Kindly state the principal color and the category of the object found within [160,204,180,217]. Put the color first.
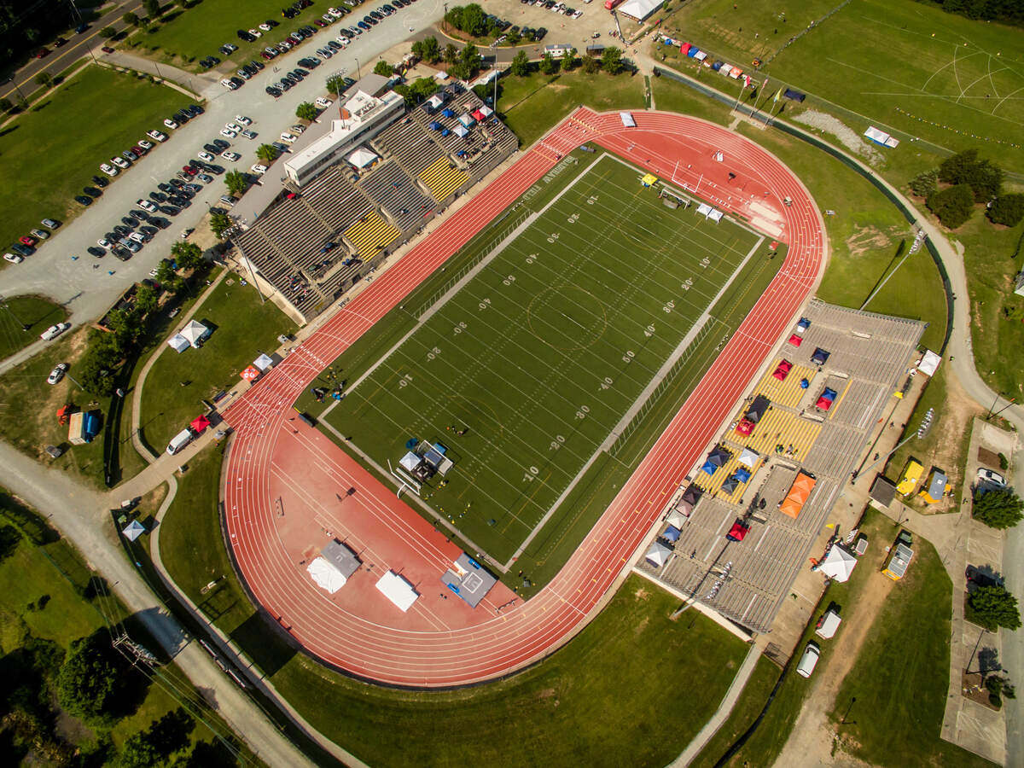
black vehicle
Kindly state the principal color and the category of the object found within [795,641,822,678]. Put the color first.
white vehicle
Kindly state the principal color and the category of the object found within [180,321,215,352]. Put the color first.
white tent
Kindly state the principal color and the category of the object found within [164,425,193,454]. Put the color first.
white van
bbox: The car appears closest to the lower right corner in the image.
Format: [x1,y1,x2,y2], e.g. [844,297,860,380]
[969,567,999,585]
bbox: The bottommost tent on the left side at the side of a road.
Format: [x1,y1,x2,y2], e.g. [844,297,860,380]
[119,517,155,547]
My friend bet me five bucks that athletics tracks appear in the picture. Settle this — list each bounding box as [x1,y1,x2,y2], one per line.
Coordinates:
[222,112,823,688]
